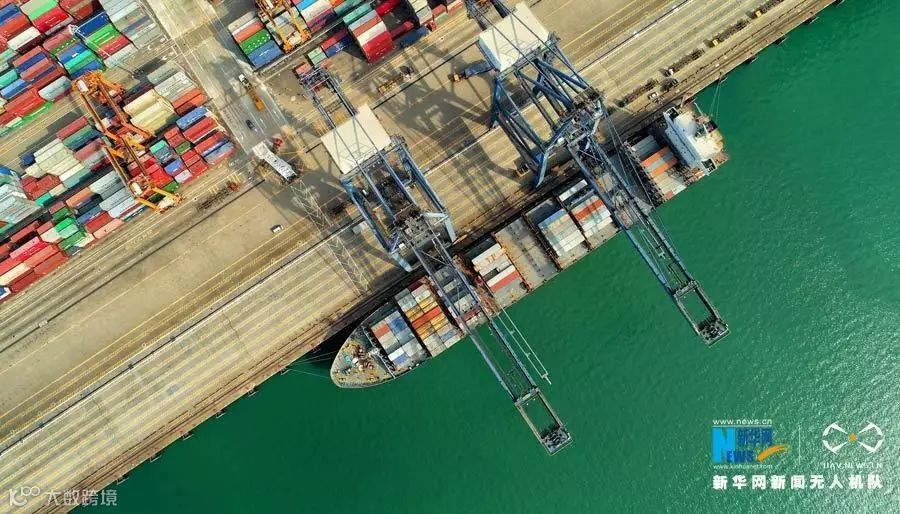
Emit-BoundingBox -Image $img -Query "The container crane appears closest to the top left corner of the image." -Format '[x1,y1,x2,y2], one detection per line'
[60,67,156,157]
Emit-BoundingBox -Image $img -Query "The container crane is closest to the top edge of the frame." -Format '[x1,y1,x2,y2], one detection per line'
[252,0,312,54]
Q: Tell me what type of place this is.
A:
port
